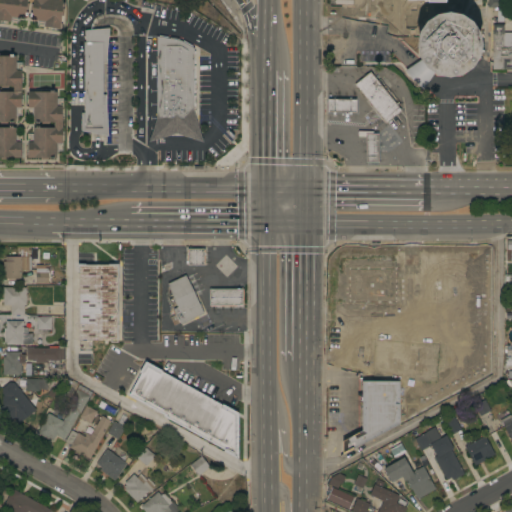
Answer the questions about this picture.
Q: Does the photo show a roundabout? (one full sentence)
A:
No, I find no roundabout anywhere in the image.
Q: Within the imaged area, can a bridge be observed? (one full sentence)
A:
No, the scene contains no bridge.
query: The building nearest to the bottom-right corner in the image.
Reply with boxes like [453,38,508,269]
[466,436,494,470]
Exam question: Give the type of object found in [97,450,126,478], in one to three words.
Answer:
house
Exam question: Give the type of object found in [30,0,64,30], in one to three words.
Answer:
building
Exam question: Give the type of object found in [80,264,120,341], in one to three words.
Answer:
building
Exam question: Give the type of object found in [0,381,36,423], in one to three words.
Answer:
house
